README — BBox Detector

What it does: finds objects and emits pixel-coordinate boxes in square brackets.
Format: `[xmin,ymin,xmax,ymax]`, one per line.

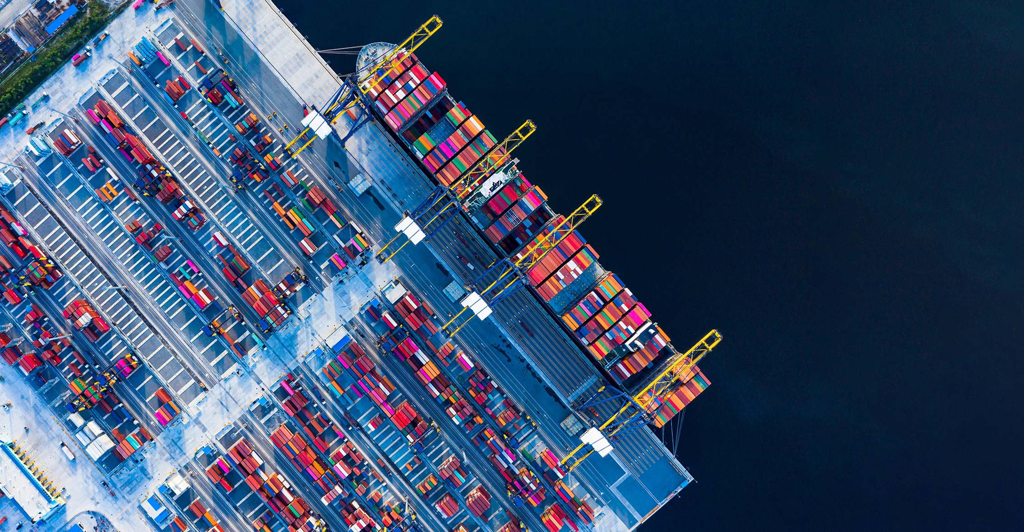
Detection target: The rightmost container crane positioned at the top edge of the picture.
[280,16,441,161]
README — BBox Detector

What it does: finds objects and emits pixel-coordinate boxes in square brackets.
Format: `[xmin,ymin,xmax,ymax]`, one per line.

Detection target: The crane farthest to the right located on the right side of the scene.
[558,332,720,476]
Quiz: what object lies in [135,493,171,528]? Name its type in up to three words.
building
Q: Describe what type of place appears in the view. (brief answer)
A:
port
